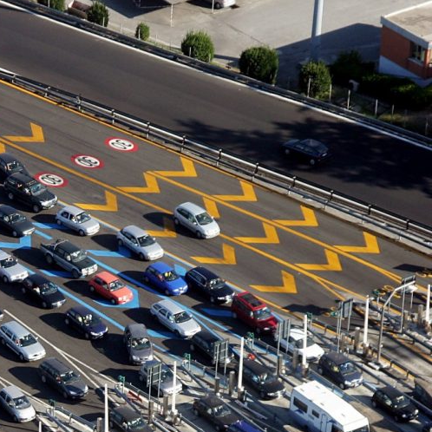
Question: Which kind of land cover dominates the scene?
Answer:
paved ground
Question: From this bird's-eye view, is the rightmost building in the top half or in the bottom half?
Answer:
top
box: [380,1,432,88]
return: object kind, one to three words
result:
building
